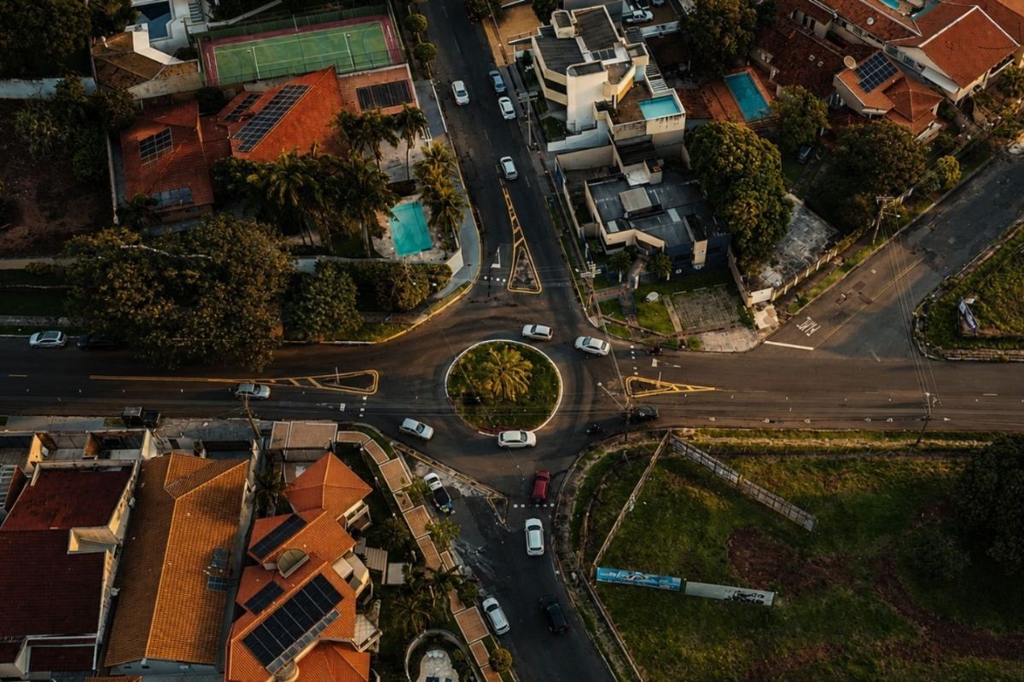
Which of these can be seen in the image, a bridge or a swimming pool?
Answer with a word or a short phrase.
swimming pool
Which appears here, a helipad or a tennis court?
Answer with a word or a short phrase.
tennis court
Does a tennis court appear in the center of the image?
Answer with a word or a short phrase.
No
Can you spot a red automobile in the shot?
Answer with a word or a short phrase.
Yes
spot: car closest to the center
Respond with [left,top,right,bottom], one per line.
[518,320,557,340]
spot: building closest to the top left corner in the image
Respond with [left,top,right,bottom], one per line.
[92,30,206,108]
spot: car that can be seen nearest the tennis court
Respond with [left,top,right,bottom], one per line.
[451,79,470,103]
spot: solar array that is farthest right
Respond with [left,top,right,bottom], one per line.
[855,52,898,92]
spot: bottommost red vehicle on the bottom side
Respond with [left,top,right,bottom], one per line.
[532,470,551,503]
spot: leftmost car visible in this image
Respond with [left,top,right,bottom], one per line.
[29,329,66,347]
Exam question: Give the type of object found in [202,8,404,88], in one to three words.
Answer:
tennis court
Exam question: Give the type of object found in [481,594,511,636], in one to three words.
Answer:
car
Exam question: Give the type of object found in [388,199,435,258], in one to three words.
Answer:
swimming pool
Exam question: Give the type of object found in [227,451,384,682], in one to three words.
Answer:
house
